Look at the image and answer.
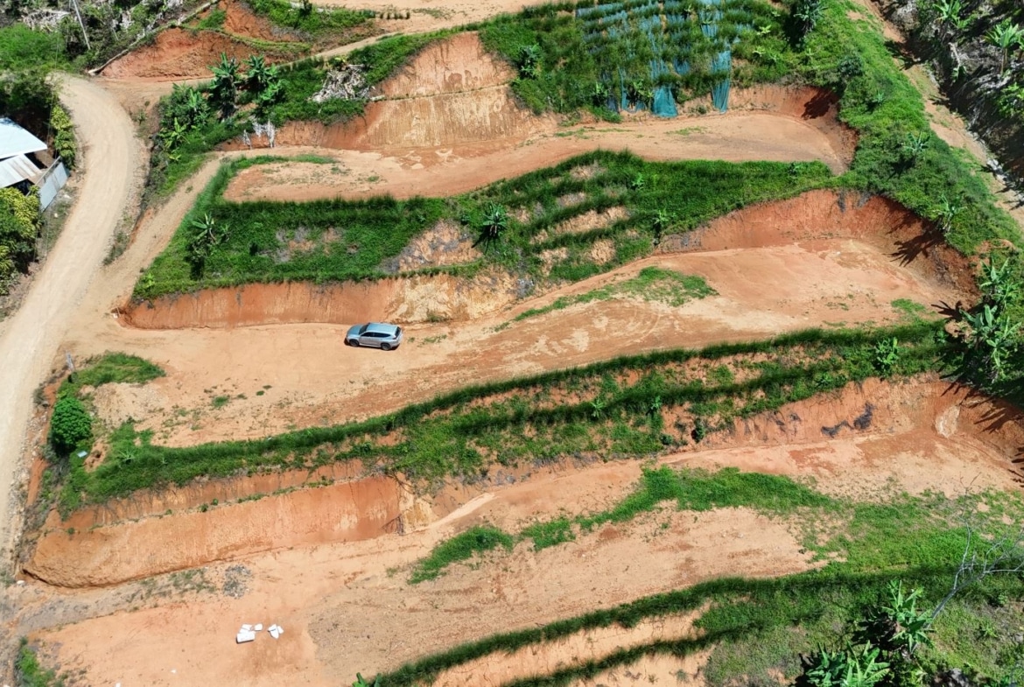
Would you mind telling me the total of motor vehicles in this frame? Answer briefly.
1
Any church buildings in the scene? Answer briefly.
No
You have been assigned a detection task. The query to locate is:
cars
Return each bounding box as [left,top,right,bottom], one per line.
[344,319,402,347]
